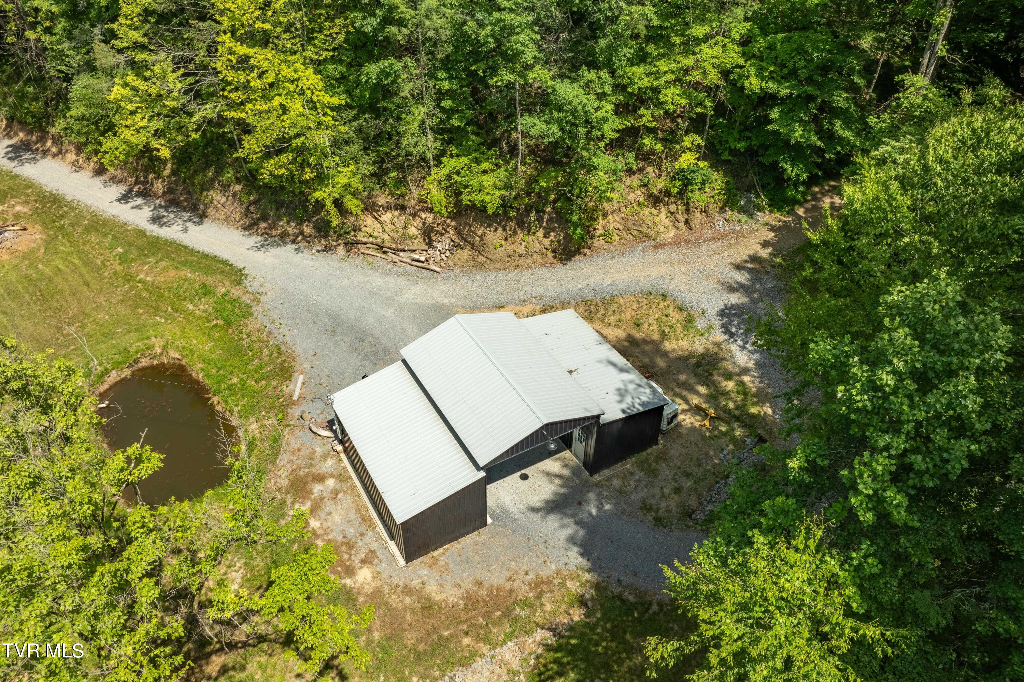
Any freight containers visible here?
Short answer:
No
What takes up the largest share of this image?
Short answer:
trees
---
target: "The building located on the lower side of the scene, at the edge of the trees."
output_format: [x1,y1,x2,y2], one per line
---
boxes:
[328,309,669,570]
